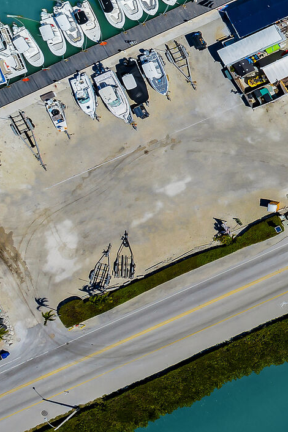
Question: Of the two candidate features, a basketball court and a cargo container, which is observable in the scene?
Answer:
cargo container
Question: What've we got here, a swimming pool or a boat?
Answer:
boat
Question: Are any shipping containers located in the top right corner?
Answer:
Yes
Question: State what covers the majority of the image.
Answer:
paved ground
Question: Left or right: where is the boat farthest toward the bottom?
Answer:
left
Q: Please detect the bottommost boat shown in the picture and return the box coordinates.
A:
[41,96,64,133]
